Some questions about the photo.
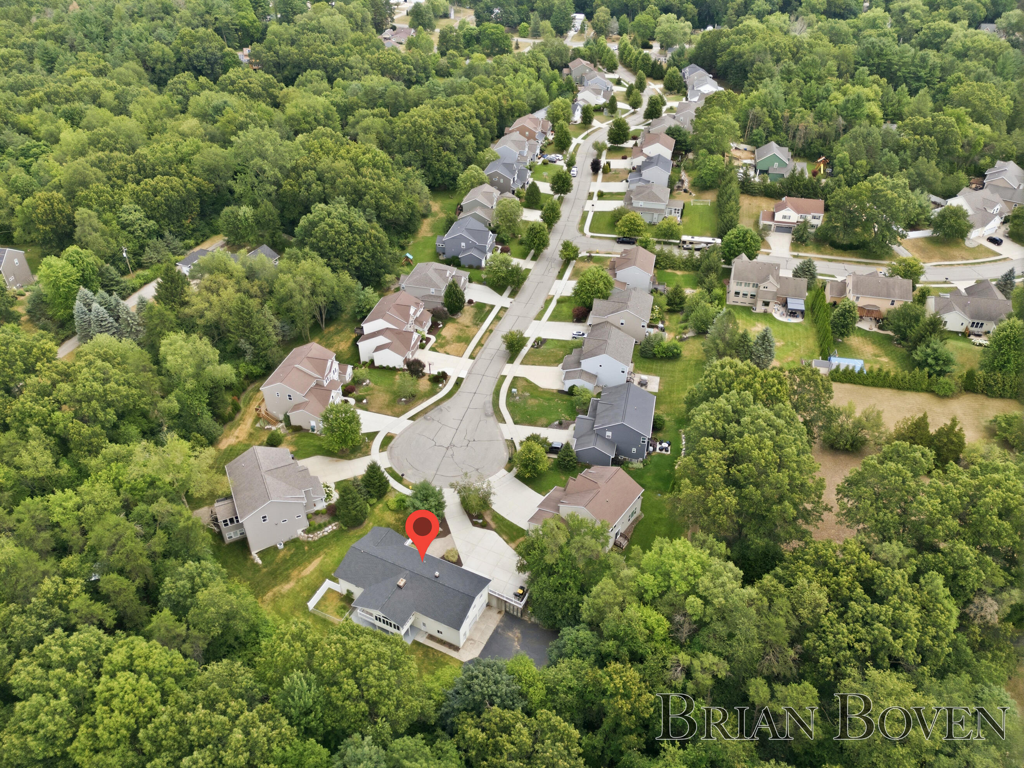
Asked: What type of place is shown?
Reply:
residential area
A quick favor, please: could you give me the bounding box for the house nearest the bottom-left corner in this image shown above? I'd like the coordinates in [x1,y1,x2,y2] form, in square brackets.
[214,444,327,553]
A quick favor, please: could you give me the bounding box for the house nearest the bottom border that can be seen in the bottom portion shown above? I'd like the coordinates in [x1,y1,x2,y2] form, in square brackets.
[333,528,493,647]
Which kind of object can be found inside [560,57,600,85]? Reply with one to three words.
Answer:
house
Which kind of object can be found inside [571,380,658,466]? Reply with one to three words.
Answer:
house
